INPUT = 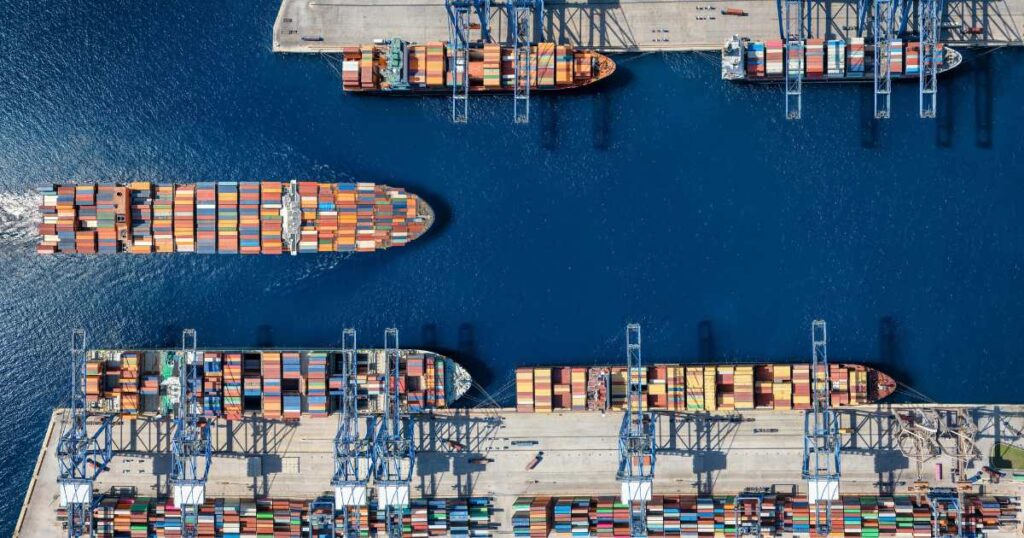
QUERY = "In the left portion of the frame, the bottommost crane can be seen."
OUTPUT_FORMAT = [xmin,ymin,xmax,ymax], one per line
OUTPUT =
[309,493,335,538]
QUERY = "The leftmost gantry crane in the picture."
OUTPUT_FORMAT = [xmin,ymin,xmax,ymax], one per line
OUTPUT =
[41,331,130,534]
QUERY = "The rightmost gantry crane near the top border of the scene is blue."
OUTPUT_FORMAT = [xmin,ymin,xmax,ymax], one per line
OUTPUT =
[891,0,952,118]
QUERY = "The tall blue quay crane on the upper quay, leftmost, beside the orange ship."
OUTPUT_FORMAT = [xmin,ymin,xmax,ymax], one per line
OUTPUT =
[441,0,491,123]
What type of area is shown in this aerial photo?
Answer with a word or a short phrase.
port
